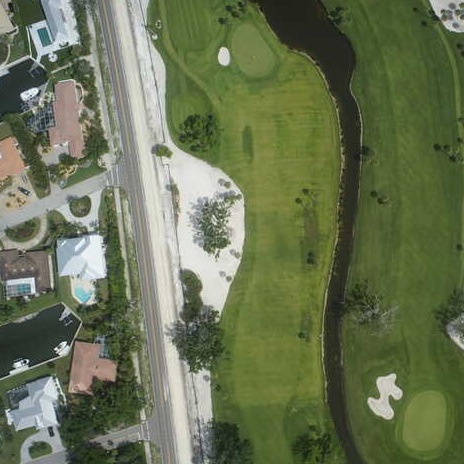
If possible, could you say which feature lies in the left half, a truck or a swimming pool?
swimming pool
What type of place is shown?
golf course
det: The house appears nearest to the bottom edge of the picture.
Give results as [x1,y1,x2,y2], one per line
[10,376,59,430]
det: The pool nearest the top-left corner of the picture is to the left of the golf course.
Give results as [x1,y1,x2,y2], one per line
[37,27,51,47]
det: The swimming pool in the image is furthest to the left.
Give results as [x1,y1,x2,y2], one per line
[7,278,36,297]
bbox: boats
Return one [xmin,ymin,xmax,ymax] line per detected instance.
[13,359,29,368]
[54,342,69,355]
[18,88,39,100]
